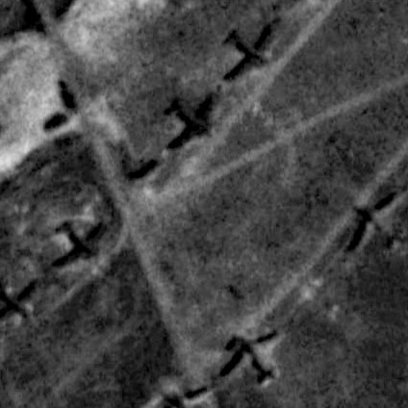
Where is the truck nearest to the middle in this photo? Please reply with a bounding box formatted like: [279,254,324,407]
[123,157,156,180]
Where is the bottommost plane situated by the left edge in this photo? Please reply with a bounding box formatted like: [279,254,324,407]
[0,280,40,318]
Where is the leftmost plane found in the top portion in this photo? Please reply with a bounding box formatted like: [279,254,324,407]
[166,94,212,149]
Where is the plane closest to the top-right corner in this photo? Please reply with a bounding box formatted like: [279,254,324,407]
[224,25,274,82]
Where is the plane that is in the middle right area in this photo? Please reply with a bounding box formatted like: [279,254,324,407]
[353,196,408,252]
